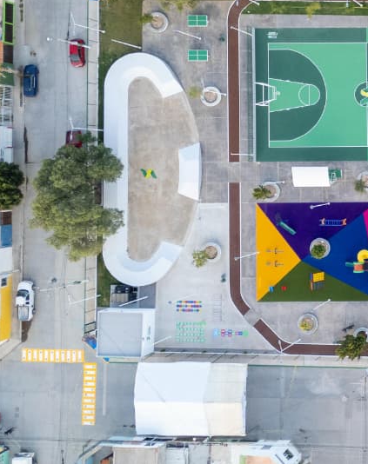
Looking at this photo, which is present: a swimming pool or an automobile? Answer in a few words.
automobile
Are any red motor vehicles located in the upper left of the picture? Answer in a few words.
Yes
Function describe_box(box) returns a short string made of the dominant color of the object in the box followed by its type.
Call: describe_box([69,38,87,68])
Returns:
red car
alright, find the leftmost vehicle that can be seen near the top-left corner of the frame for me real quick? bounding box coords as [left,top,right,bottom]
[21,64,40,98]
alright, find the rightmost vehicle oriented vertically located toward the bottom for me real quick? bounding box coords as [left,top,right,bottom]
[15,280,36,322]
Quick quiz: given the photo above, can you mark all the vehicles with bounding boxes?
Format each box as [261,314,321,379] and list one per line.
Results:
[69,38,87,68]
[15,280,36,322]
[21,64,40,98]
[11,452,37,464]
[66,126,84,152]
